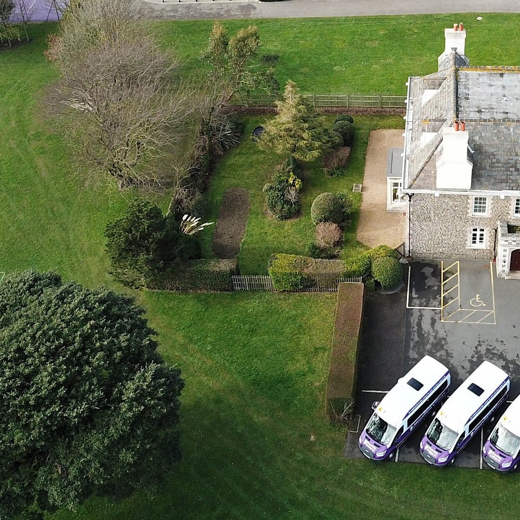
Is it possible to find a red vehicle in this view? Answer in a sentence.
No, no red vehicle is visible in the scene.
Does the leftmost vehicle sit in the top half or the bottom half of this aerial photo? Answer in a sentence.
You can find the leftmost vehicle in the bottom half.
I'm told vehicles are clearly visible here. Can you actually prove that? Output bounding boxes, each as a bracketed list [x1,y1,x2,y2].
[417,360,511,474]
[478,392,520,479]
[358,355,453,467]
